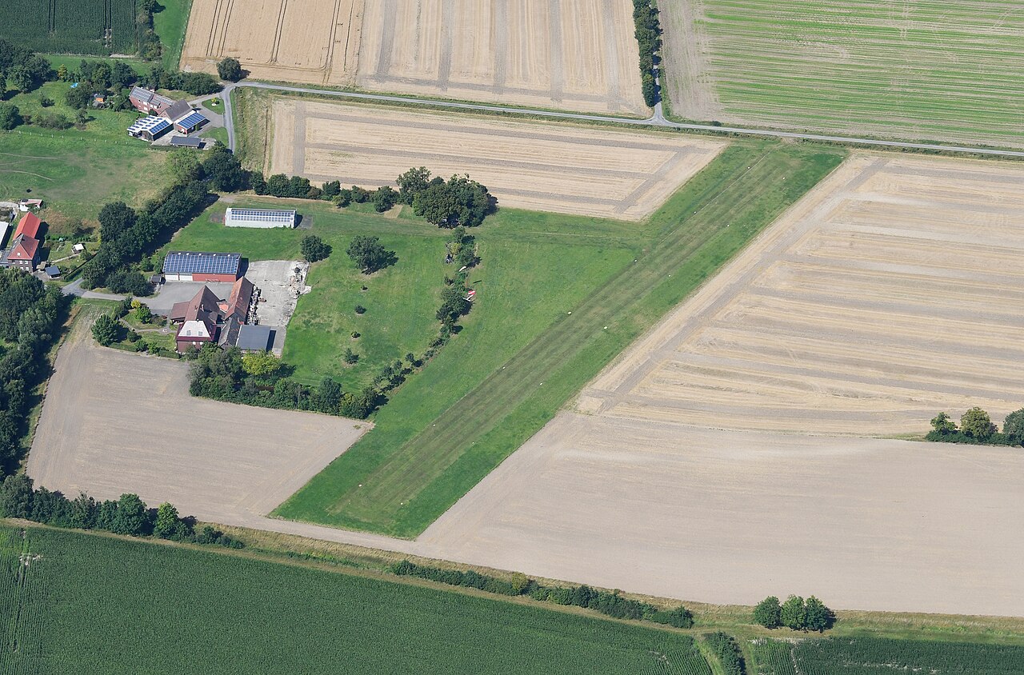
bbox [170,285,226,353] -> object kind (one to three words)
house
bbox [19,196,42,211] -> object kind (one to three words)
building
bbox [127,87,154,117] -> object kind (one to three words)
house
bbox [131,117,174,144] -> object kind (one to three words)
barn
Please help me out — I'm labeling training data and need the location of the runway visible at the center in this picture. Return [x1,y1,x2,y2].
[271,142,848,539]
